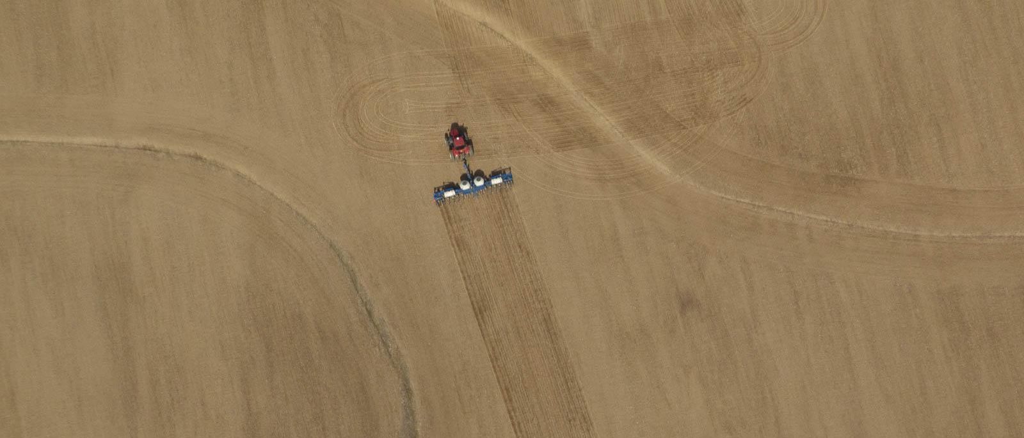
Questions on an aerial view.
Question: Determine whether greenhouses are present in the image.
No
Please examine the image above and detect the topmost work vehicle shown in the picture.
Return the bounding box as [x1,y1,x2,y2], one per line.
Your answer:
[444,123,475,163]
